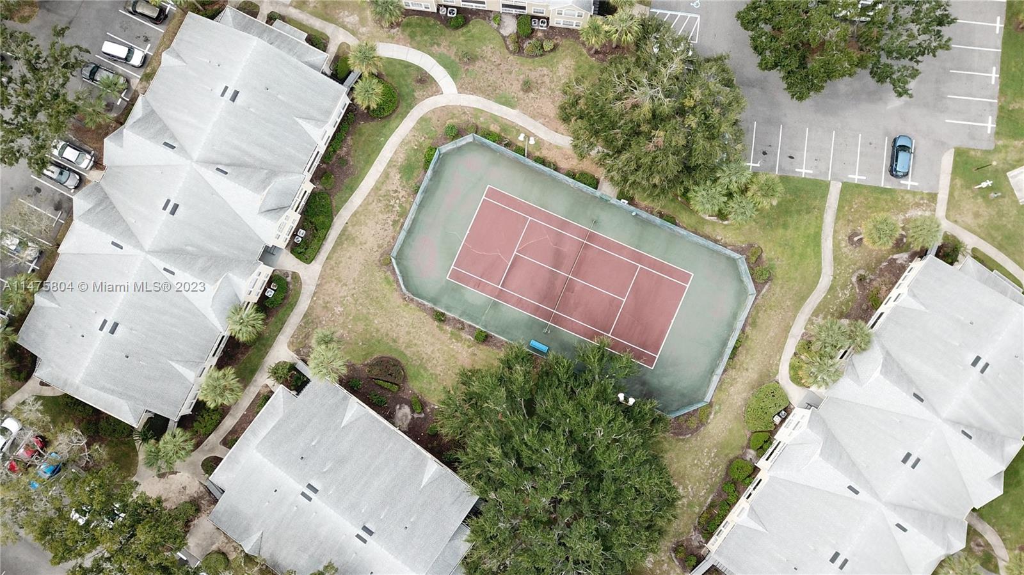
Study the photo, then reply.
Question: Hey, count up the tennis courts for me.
1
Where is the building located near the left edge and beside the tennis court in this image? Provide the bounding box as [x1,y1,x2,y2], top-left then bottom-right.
[17,3,361,439]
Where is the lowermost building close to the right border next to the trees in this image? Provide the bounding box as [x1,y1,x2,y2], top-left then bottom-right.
[684,238,1024,575]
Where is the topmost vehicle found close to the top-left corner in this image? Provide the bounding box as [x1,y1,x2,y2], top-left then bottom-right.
[123,0,172,27]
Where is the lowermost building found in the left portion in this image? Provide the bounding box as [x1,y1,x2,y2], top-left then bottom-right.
[205,357,479,575]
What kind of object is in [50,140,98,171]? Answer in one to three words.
car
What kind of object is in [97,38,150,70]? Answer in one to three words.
vehicle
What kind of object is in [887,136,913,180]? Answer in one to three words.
car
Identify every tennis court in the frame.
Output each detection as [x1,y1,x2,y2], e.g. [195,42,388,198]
[397,144,744,411]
